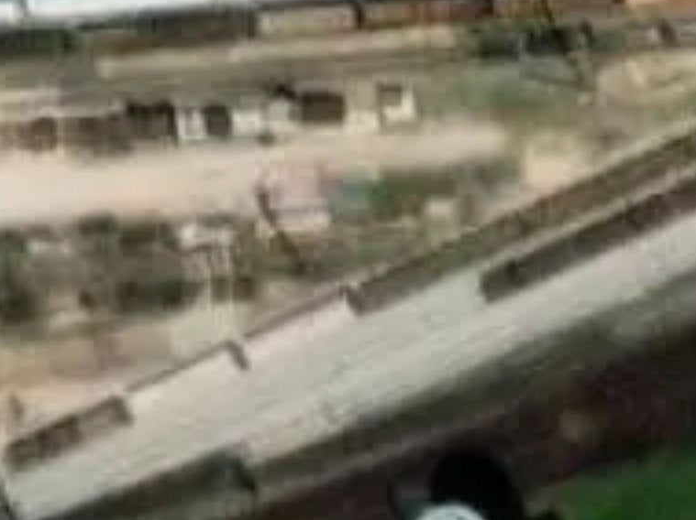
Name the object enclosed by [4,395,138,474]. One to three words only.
rail car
